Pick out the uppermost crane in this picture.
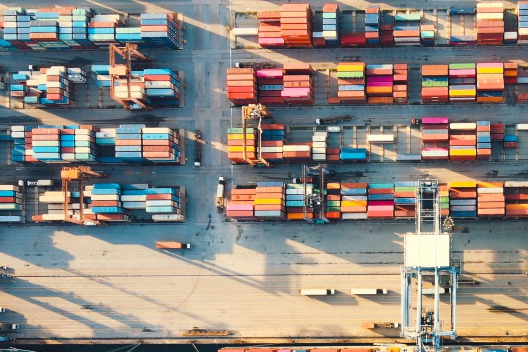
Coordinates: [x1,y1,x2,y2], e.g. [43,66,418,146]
[106,42,150,114]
